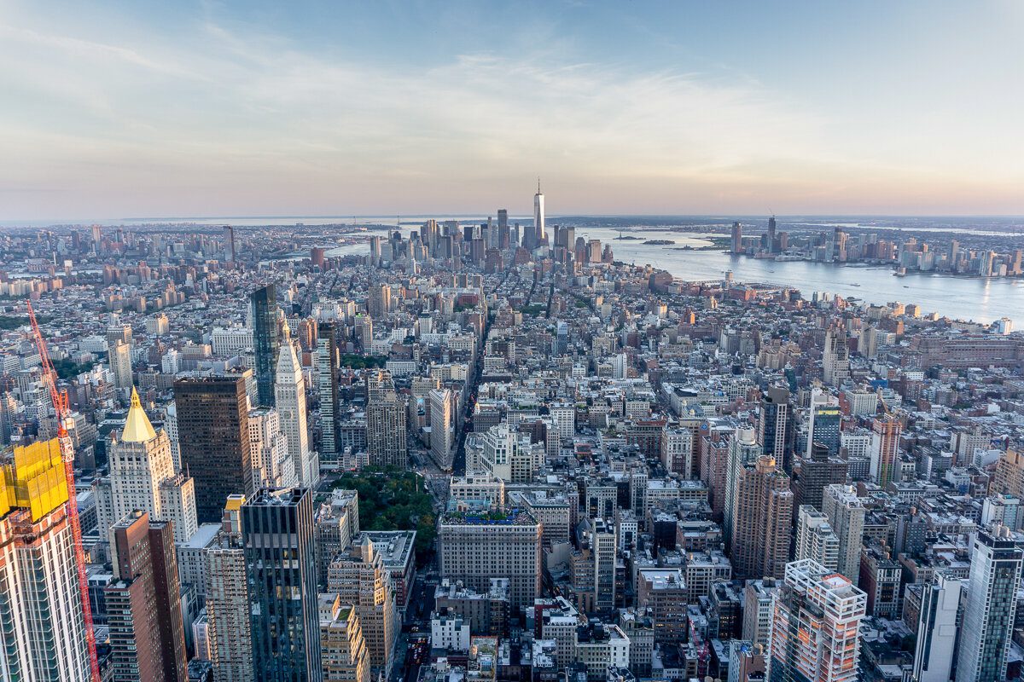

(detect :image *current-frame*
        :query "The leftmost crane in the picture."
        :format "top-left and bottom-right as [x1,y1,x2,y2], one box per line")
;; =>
[25,300,106,682]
